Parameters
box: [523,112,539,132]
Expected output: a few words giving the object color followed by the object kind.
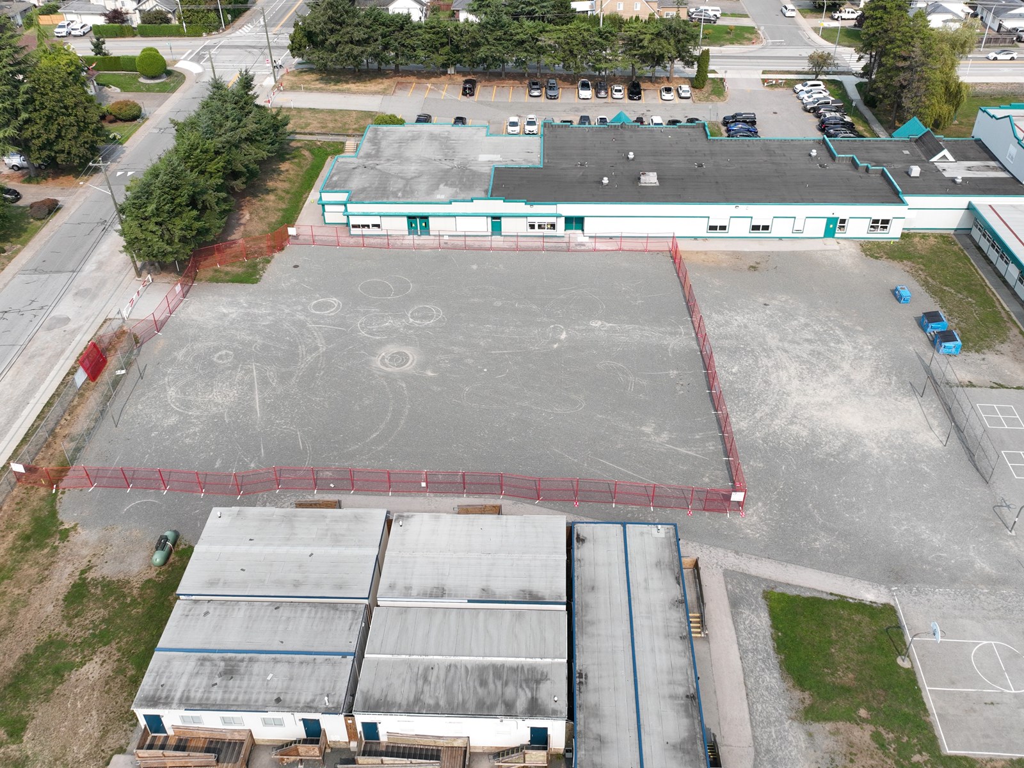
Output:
white car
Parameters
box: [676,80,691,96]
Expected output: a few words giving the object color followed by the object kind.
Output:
white car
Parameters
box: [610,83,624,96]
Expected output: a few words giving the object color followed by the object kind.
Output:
white vehicle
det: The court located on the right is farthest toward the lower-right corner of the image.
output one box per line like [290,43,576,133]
[893,588,1024,768]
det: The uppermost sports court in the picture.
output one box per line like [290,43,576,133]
[958,387,1024,533]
